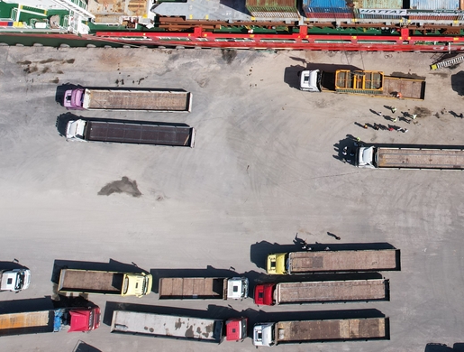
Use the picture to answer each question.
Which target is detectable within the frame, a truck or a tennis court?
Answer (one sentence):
The image shows a truck.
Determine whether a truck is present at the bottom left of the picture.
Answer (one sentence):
Yes, a truck appears at the bottom left of the picture.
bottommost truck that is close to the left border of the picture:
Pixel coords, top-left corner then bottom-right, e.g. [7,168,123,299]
[0,302,110,335]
